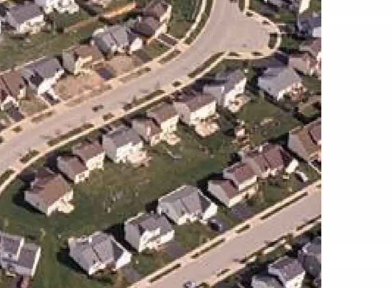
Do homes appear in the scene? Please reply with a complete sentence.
Yes, the photo shows a home.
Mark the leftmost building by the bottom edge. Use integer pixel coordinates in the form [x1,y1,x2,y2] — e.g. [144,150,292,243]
[0,242,43,288]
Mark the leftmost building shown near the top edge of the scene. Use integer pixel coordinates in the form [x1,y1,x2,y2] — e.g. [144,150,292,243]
[0,5,45,42]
